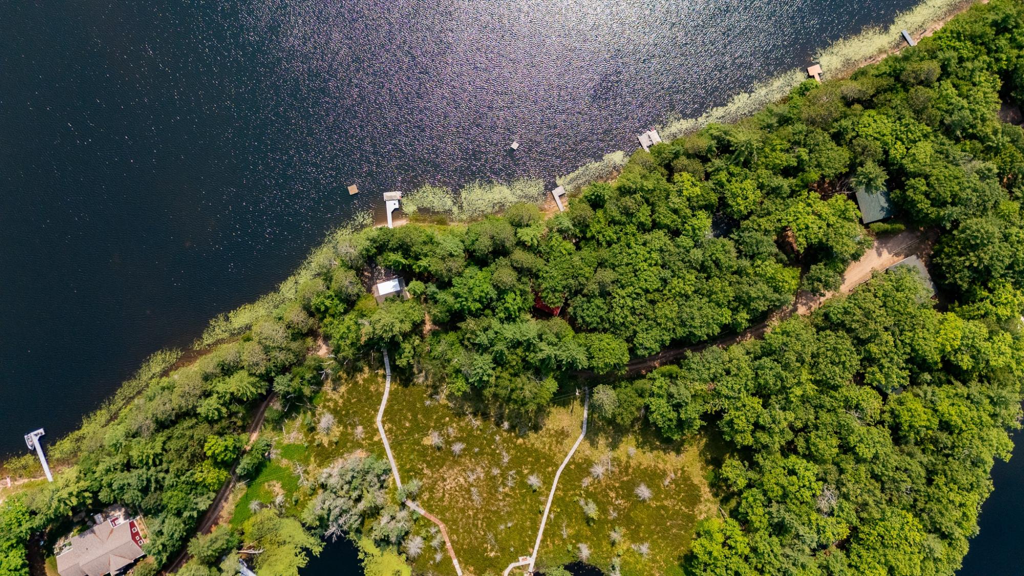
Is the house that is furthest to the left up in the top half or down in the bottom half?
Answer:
bottom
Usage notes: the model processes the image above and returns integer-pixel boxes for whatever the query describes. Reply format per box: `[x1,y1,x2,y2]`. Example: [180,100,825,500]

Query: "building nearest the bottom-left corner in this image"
[57,514,146,576]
